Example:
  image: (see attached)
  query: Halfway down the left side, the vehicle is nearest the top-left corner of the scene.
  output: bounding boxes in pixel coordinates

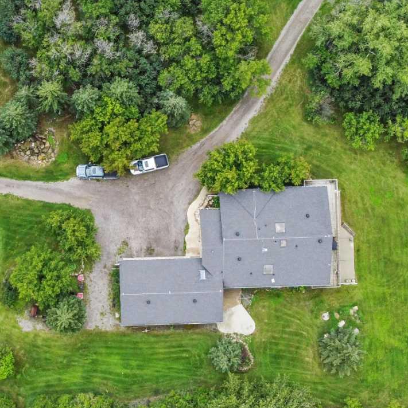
[76,164,119,180]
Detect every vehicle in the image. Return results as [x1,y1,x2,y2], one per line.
[130,153,170,174]
[76,164,119,180]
